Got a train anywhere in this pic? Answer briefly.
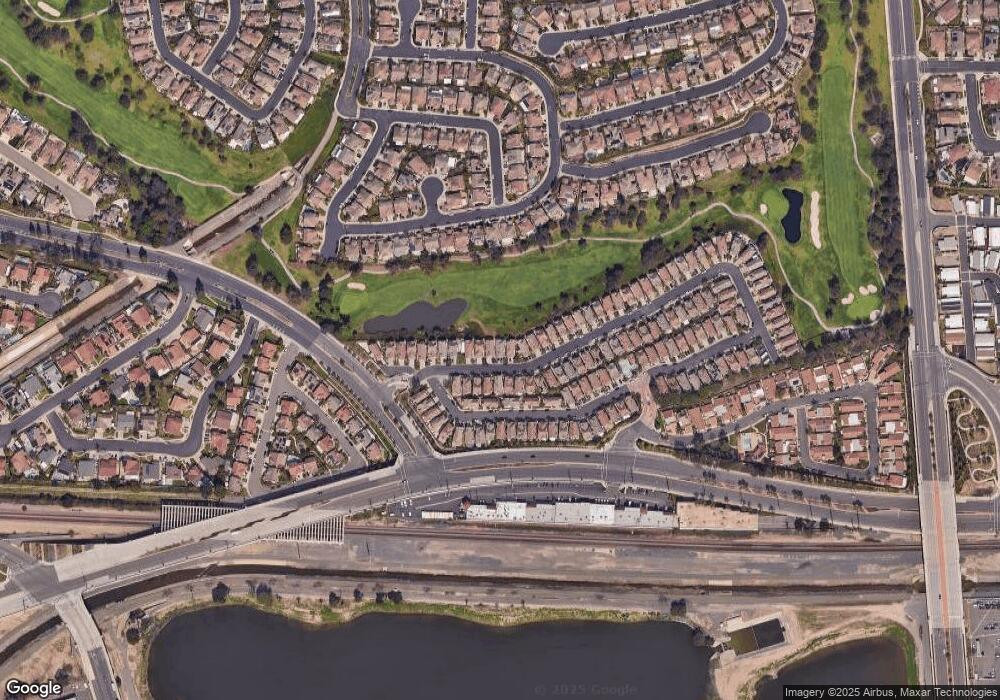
No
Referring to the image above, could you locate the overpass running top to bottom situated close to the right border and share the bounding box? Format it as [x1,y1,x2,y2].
[919,476,965,624]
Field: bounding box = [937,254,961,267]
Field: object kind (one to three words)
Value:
house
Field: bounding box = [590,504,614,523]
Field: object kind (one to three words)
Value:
building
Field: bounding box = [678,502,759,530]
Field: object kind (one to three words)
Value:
building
